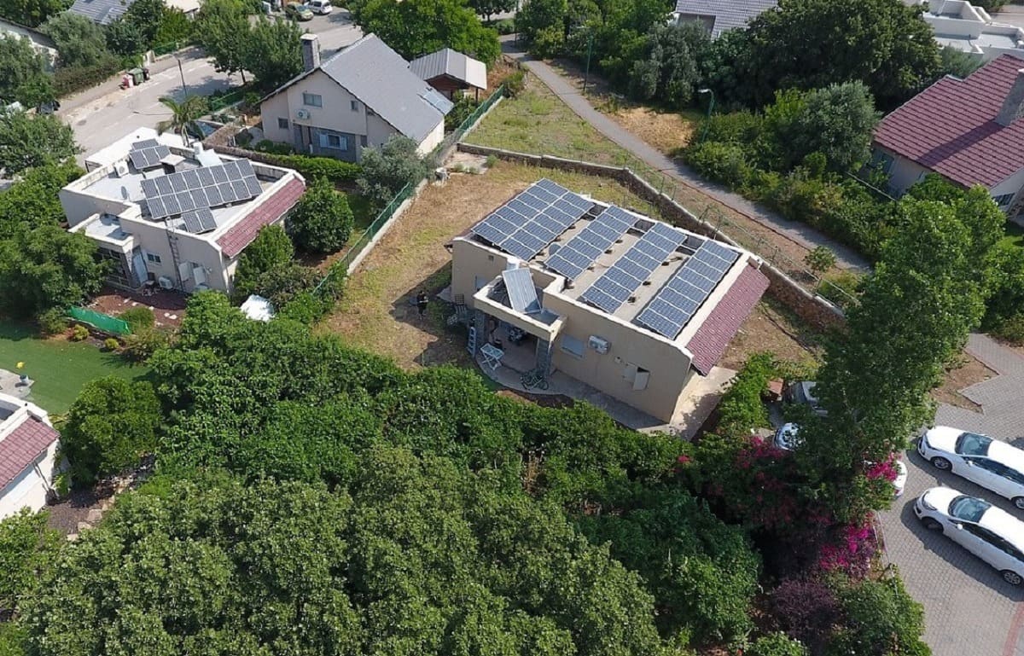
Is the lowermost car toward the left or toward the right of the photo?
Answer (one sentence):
The lowermost car sits on the right side.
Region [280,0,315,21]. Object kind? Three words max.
car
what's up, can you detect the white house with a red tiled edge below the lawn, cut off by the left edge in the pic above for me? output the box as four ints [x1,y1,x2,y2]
[0,370,78,513]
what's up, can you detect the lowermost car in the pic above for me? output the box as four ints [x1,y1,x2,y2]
[911,485,1024,588]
